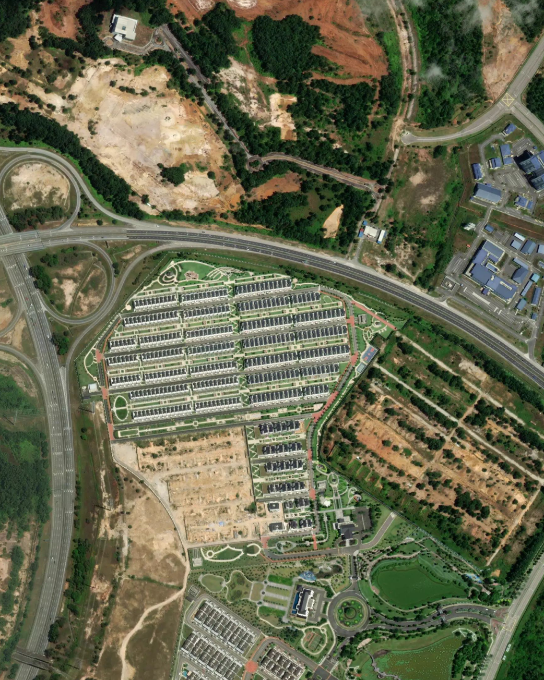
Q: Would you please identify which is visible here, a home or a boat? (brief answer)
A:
home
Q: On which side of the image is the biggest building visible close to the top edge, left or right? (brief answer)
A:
left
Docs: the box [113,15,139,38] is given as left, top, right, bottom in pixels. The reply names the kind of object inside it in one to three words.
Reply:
building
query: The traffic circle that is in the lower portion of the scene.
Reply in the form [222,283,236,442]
[328,591,372,635]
